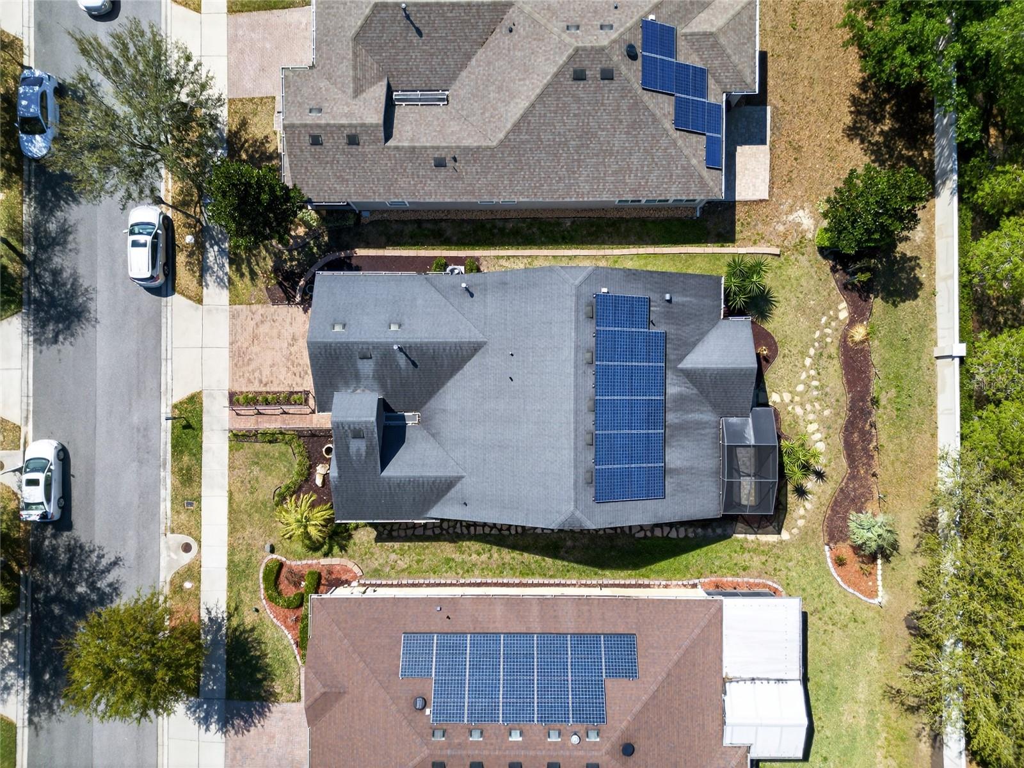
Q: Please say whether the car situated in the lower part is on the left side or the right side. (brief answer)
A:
left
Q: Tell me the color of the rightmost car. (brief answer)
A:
white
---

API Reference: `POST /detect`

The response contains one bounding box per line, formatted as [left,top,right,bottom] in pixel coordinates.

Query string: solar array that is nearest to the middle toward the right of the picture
[594,291,667,502]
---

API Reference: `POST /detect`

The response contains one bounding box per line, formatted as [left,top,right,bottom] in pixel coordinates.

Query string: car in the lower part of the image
[5,439,69,527]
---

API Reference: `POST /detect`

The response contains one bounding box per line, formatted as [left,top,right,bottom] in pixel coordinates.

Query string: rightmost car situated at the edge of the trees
[124,206,170,288]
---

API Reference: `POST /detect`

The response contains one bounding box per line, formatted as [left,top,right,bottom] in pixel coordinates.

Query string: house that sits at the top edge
[282,0,759,213]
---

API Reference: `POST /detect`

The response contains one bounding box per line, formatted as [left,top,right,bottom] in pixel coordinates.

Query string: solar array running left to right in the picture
[398,633,640,729]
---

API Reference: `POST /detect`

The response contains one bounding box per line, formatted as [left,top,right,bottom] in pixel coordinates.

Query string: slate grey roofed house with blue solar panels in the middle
[305,262,760,532]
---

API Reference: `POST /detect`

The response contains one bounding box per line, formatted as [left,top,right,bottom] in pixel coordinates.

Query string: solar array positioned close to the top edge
[640,17,720,169]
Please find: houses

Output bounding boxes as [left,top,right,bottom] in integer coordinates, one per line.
[305,262,760,532]
[282,0,759,213]
[300,581,751,768]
